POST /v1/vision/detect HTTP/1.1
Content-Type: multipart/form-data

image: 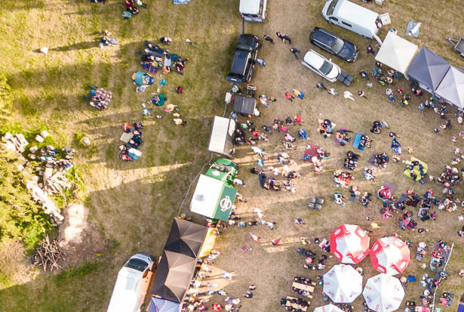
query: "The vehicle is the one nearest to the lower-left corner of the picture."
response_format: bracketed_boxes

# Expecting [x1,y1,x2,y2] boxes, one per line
[109,254,161,312]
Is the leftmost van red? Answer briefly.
No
